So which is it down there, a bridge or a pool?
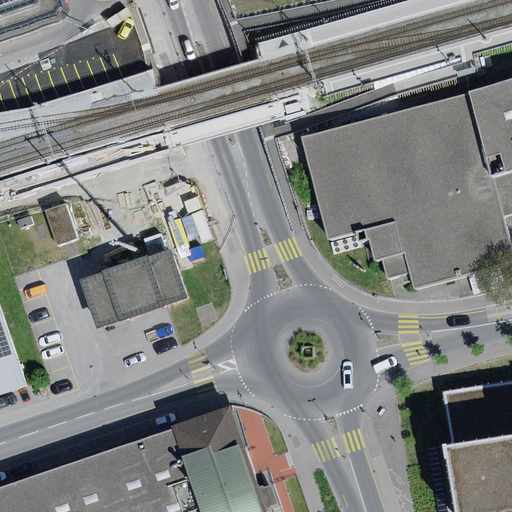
bridge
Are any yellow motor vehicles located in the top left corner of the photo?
Yes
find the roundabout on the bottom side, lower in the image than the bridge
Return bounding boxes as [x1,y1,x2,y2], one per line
[272,316,342,385]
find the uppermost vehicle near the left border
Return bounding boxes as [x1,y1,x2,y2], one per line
[24,282,48,298]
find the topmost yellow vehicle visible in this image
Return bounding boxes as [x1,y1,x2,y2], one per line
[118,18,134,40]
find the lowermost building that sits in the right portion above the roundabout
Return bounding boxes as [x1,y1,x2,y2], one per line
[302,80,512,296]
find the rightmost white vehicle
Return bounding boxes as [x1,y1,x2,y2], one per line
[371,356,398,373]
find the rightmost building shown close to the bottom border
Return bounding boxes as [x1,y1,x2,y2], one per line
[443,383,512,512]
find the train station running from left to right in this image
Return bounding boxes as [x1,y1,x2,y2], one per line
[258,0,512,108]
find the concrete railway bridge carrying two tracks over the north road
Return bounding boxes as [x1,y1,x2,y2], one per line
[154,59,311,147]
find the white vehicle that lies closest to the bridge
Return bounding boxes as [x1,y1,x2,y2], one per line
[182,36,196,60]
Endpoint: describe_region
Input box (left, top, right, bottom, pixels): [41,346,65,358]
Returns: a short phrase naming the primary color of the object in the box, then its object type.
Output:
white vehicle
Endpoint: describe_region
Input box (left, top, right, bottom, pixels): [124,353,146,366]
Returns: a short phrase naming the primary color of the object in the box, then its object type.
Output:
white vehicle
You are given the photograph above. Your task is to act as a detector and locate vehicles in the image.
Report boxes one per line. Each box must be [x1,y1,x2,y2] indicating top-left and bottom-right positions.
[446,315,470,326]
[342,360,354,388]
[0,393,18,408]
[168,0,178,10]
[118,18,134,40]
[24,282,48,298]
[41,346,65,358]
[50,380,74,392]
[154,413,176,426]
[145,326,174,341]
[152,338,178,352]
[371,356,398,373]
[124,353,146,366]
[38,332,63,346]
[182,36,196,60]
[18,388,31,402]
[28,308,50,321]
